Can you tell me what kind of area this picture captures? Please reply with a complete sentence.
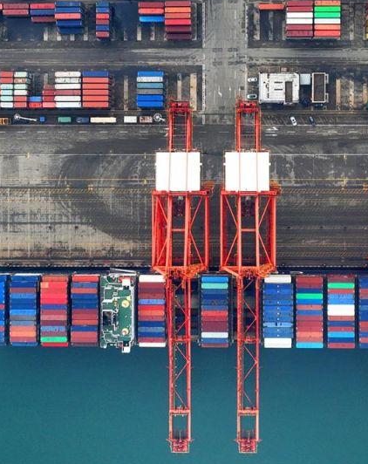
It's a port.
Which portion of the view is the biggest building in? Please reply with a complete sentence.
The biggest building is located in the top right region of the scene.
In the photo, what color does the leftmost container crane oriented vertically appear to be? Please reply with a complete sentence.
From above, the leftmost container crane oriented vertically appears red.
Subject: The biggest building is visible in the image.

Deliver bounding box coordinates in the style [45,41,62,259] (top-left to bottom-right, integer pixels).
[259,74,298,105]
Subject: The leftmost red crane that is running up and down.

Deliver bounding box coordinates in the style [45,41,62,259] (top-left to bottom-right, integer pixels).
[149,101,217,453]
